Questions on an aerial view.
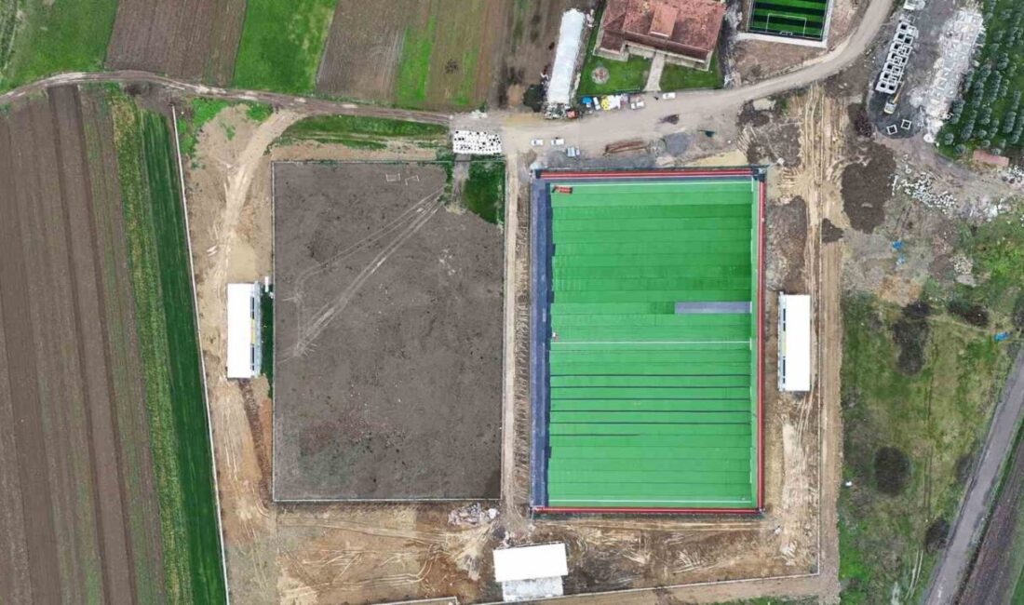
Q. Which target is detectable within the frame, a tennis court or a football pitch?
football pitch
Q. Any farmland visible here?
Yes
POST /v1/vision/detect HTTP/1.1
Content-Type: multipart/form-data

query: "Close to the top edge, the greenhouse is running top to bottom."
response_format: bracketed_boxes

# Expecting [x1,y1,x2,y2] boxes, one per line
[547,6,585,105]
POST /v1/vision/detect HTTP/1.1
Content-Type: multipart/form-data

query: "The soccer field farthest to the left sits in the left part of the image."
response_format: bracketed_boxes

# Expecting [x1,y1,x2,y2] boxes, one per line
[273,161,503,501]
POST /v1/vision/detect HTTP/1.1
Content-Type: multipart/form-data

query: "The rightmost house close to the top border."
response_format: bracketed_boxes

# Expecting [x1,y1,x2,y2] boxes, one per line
[592,0,726,70]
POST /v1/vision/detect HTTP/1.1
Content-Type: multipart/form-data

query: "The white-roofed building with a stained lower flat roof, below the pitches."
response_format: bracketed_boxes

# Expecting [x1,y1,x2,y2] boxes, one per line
[493,540,568,602]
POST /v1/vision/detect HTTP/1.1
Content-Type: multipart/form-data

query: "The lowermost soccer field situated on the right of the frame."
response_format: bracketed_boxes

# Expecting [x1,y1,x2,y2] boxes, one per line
[531,168,763,509]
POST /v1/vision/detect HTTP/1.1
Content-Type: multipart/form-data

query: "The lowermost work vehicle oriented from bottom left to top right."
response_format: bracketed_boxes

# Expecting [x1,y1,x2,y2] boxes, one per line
[883,75,910,113]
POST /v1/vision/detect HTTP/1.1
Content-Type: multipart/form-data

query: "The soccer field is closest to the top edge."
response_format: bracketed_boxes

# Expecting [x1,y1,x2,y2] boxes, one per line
[737,0,835,47]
